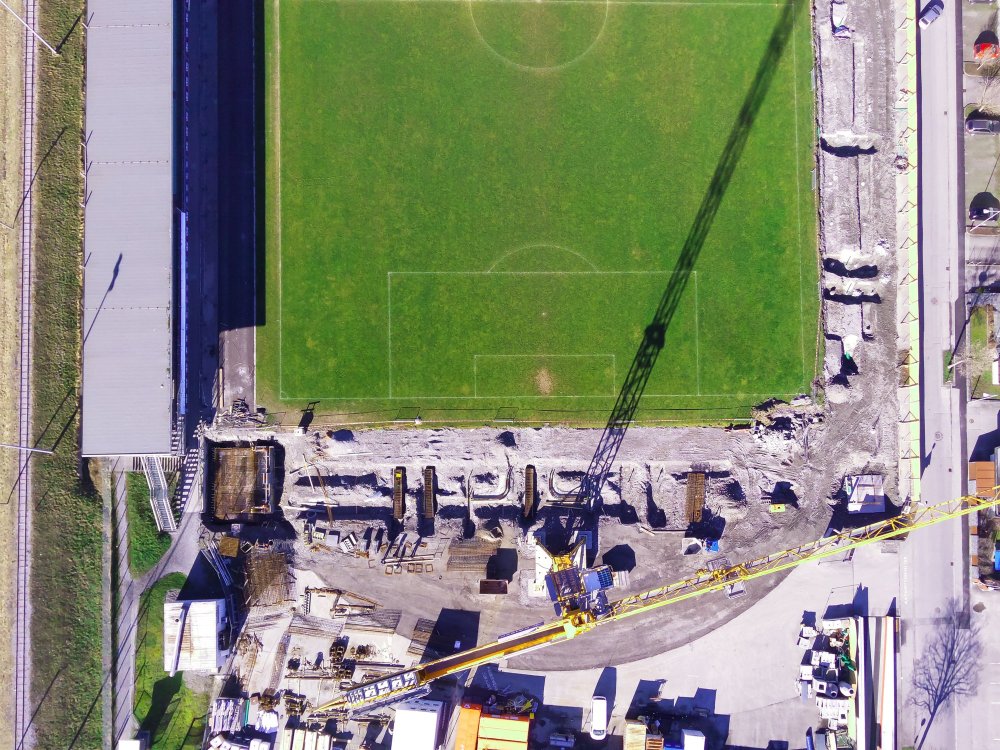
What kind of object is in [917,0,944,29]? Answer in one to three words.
car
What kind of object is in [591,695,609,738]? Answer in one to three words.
vehicle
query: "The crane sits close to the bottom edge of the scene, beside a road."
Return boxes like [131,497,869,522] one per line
[299,480,1000,724]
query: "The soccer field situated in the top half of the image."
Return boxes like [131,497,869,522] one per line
[255,0,823,429]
